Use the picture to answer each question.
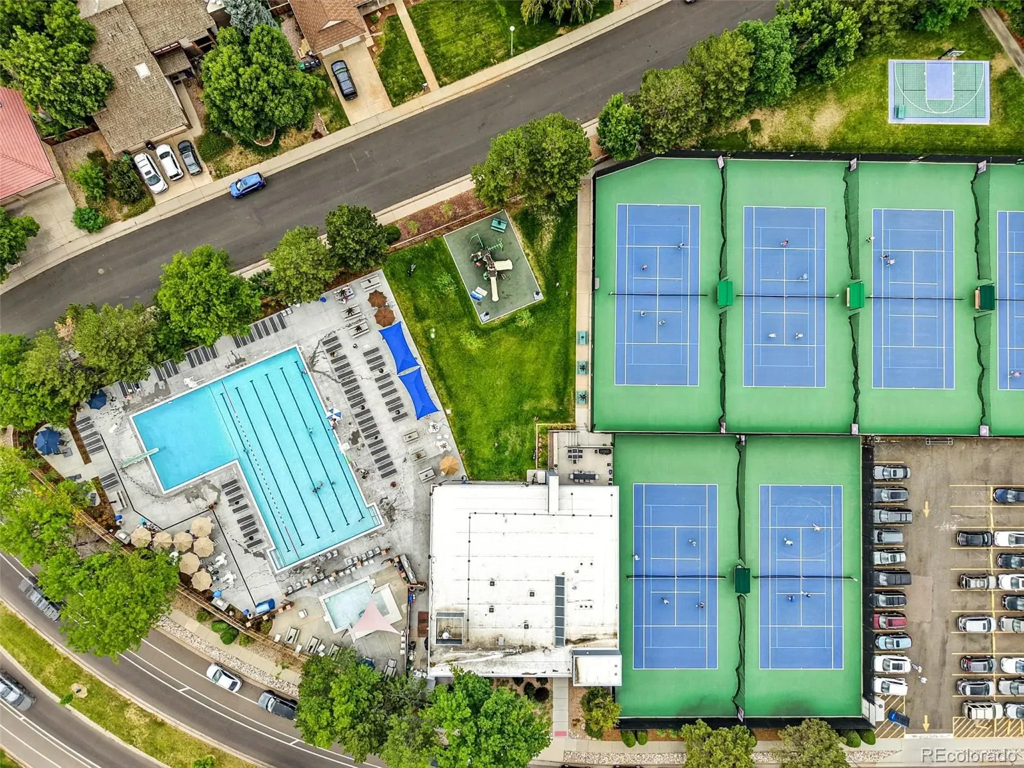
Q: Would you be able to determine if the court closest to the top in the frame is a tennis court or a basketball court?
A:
basketball court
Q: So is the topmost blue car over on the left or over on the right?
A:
left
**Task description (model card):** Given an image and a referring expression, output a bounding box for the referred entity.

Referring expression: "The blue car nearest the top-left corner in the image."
[230,173,268,197]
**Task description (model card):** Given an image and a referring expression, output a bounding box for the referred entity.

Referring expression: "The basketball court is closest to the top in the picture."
[888,59,990,125]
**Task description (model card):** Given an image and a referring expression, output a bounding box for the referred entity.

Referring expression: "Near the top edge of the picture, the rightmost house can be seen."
[291,0,397,62]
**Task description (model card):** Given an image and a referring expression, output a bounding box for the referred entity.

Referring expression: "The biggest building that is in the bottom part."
[431,472,622,687]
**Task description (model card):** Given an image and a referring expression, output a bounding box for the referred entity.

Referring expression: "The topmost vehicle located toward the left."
[332,59,357,101]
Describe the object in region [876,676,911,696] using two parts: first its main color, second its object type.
white car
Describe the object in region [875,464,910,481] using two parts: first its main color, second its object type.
gray car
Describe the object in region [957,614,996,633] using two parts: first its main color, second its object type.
white car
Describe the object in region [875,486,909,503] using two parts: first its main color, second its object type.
gray car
